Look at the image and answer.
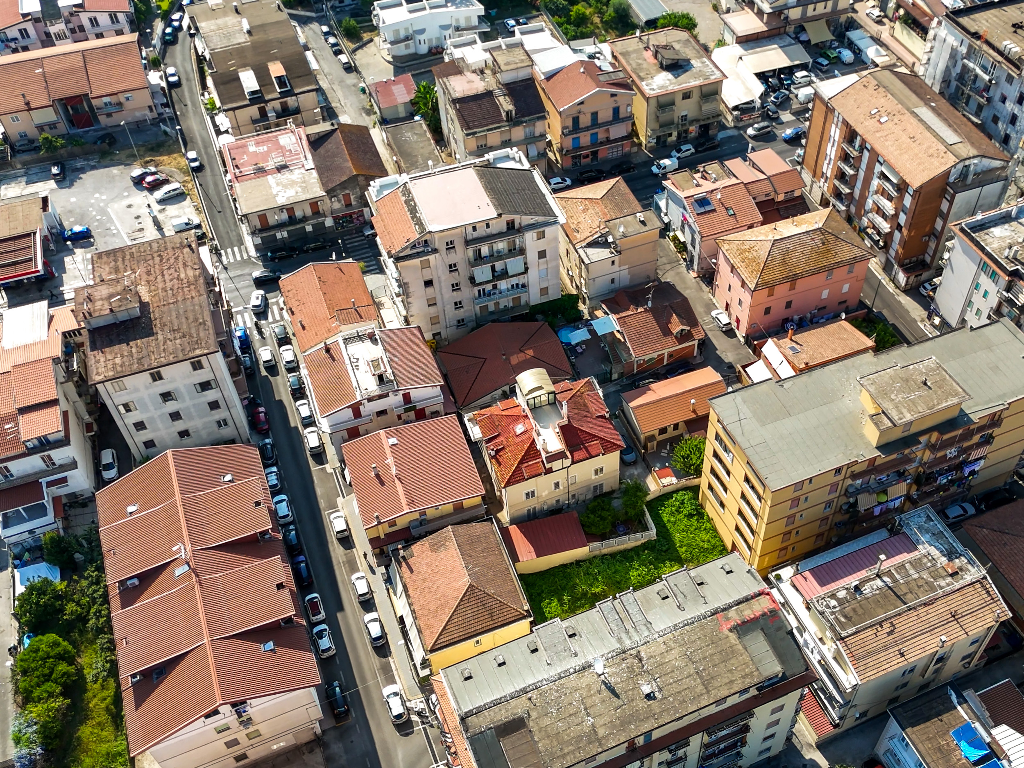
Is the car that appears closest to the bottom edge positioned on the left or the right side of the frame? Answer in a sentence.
The car that appears closest to the bottom edge sits on the right side.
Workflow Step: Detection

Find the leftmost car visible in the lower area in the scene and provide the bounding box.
[99,448,120,480]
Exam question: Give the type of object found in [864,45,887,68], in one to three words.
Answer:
gazebo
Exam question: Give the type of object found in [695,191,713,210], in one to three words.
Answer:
solar panel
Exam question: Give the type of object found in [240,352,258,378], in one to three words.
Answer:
vehicle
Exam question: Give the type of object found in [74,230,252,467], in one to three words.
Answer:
building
